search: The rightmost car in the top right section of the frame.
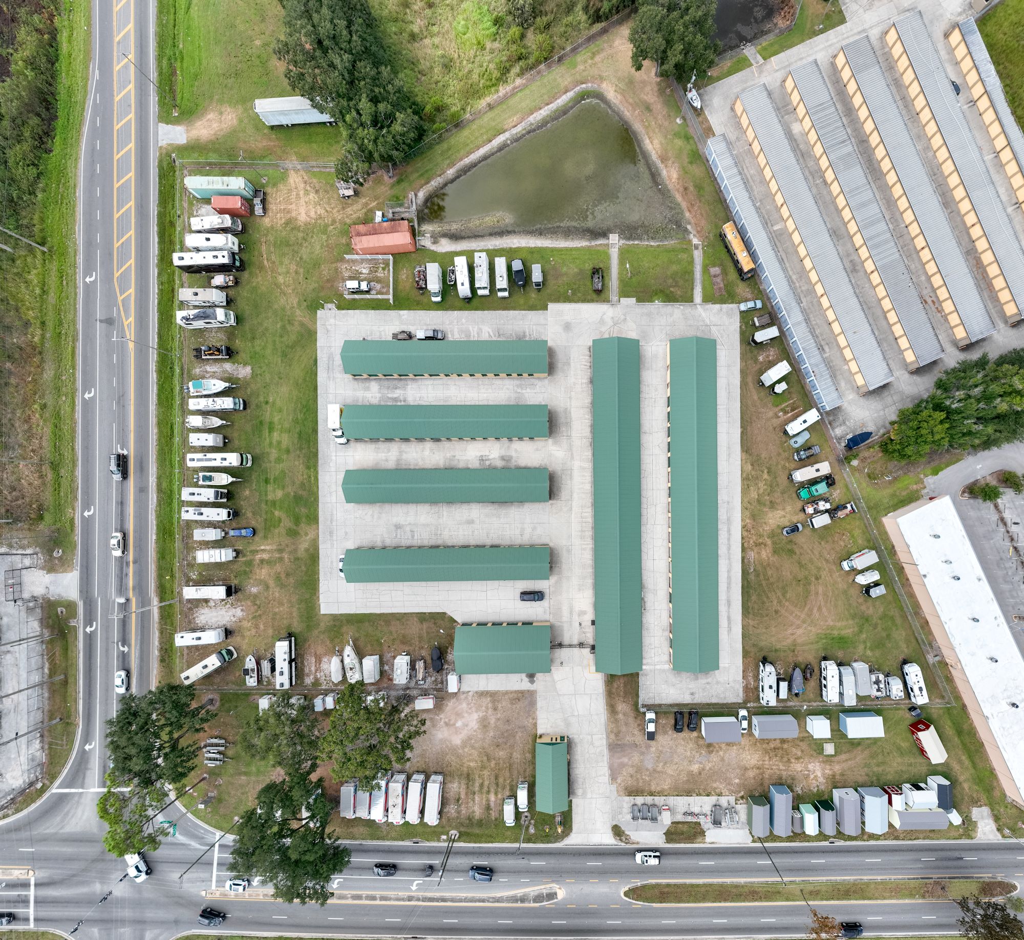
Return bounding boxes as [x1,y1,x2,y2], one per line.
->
[950,78,964,98]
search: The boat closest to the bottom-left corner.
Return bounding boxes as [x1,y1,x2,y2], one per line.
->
[244,657,259,690]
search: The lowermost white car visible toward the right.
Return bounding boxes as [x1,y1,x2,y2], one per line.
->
[635,850,660,866]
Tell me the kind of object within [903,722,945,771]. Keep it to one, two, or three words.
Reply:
shed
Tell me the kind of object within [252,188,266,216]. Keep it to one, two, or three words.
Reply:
vehicle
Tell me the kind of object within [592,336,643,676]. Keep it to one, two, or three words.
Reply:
building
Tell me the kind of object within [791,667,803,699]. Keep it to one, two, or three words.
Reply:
boat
